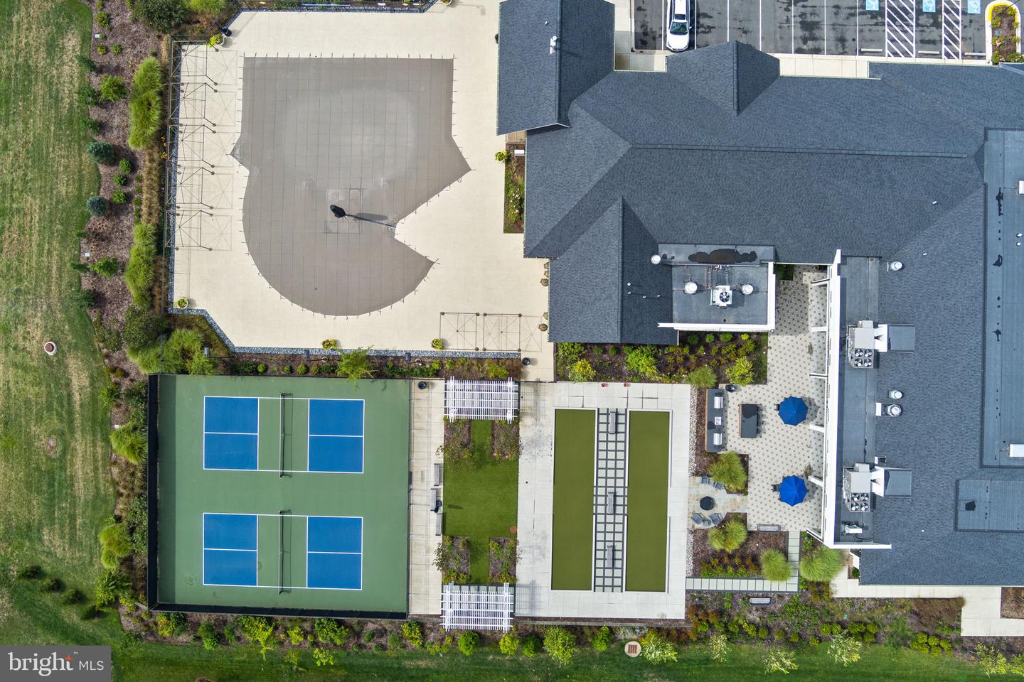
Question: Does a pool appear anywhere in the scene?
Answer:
Yes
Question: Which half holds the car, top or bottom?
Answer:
top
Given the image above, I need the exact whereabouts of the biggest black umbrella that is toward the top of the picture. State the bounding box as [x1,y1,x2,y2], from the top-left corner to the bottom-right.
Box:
[330,204,352,223]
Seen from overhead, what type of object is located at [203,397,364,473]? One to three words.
sports court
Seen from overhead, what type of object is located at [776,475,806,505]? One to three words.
umbrella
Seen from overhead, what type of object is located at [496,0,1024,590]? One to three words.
building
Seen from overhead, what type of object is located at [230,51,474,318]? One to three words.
swimming pool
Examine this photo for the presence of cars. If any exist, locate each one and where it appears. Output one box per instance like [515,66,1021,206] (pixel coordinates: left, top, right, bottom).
[665,0,694,46]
